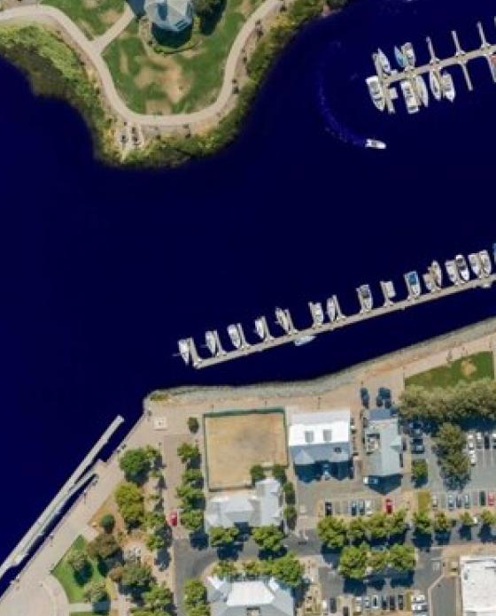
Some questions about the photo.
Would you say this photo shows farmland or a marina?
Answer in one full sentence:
The area seen from above is a marina.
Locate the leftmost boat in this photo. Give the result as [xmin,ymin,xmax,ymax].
[170,337,189,364]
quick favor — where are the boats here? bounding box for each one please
[364,139,386,148]
[294,335,315,344]
[415,76,428,106]
[433,260,442,287]
[406,269,421,297]
[358,282,371,311]
[325,296,335,320]
[479,250,491,277]
[405,43,415,68]
[454,253,469,281]
[376,47,392,76]
[252,318,265,339]
[366,78,384,109]
[399,80,415,112]
[439,69,454,102]
[430,69,440,101]
[384,280,394,296]
[224,323,240,348]
[170,337,189,364]
[199,330,217,357]
[390,88,398,99]
[274,306,288,332]
[422,272,433,289]
[394,46,408,68]
[311,300,324,328]
[466,252,479,277]
[443,258,457,282]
